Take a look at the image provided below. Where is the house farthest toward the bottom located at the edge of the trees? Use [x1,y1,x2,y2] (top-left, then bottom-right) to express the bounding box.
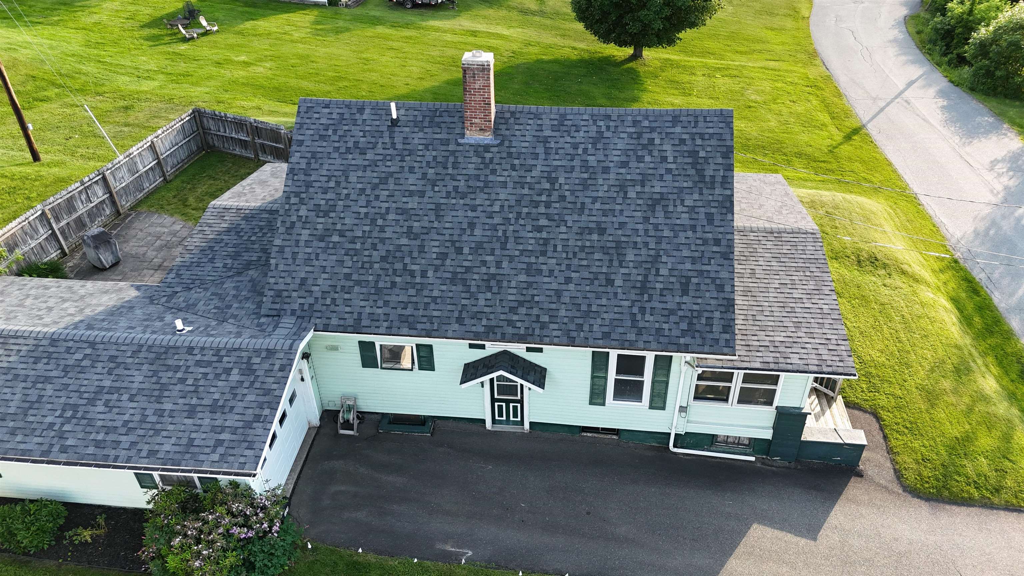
[0,46,869,513]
